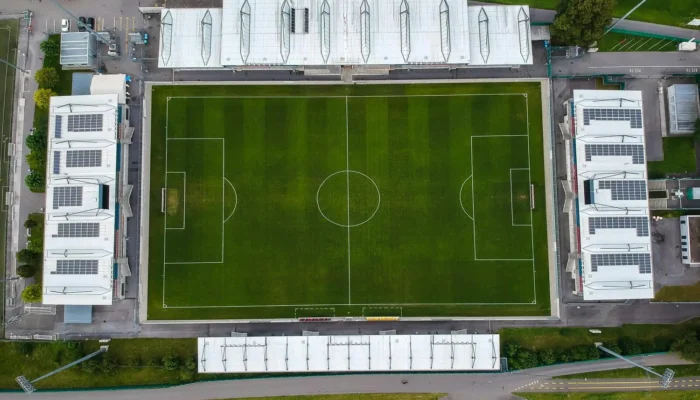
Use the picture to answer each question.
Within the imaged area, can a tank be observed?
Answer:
No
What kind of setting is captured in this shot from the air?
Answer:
sports ground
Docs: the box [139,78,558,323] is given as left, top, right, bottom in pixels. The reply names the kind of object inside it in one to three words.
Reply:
soccer field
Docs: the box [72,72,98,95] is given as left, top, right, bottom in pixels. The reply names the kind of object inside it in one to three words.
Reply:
building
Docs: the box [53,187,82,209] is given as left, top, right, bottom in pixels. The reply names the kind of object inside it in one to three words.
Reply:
solar array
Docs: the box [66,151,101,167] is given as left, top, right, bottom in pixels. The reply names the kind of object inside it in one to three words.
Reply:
solar array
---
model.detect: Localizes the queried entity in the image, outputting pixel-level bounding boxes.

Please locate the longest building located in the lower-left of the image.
[64,305,99,323]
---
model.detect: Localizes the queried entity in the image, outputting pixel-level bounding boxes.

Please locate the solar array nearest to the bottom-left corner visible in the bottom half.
[51,261,98,274]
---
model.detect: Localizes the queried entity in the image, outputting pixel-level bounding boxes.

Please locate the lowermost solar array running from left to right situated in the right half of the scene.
[591,254,651,273]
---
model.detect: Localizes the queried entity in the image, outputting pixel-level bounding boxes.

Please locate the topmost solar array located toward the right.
[584,109,642,128]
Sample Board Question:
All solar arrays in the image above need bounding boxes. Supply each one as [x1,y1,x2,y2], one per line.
[66,151,101,167]
[586,144,644,163]
[591,254,651,273]
[68,114,103,132]
[600,181,646,200]
[52,224,99,237]
[51,261,98,274]
[53,187,82,209]
[584,109,642,128]
[54,152,59,174]
[589,217,648,236]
